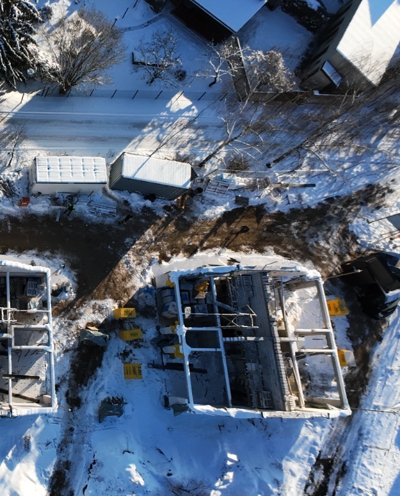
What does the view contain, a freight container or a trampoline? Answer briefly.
freight container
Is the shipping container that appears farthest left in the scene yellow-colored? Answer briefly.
No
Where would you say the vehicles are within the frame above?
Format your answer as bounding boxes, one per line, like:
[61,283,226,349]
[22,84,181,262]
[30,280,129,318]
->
[331,255,400,323]
[363,246,400,287]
